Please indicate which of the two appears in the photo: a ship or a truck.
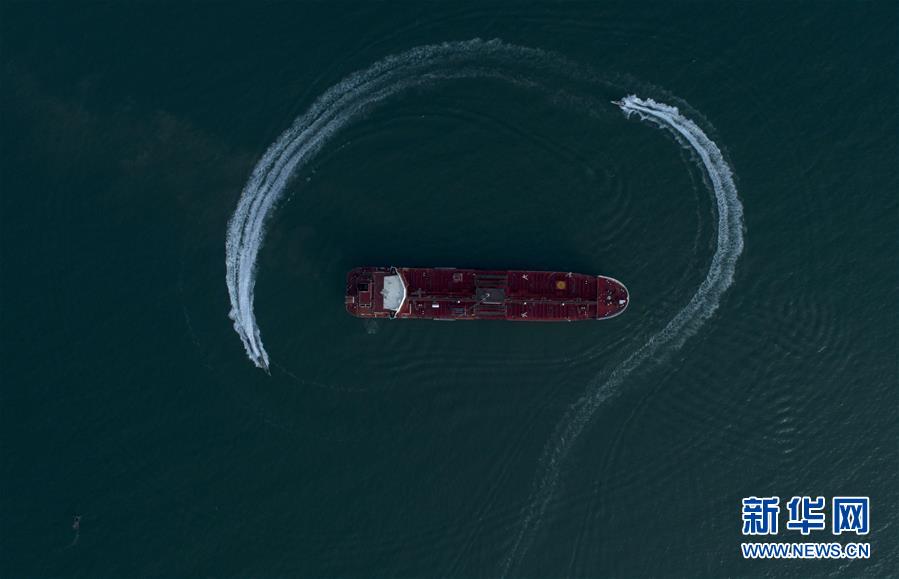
ship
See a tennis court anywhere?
No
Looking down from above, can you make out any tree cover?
No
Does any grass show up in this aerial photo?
No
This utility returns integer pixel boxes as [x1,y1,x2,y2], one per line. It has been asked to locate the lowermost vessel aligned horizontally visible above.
[345,267,629,322]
